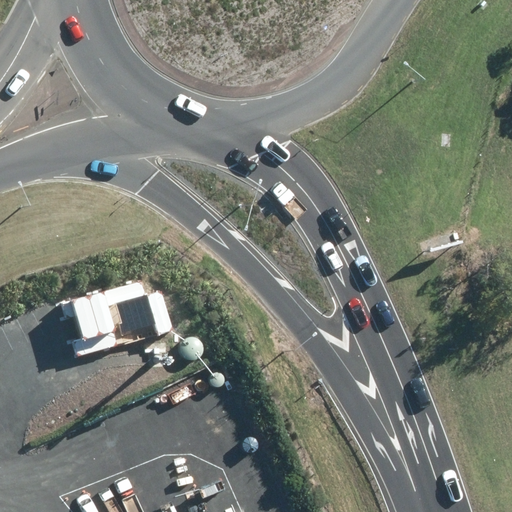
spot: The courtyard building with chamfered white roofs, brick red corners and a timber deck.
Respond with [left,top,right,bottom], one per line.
[56,280,172,358]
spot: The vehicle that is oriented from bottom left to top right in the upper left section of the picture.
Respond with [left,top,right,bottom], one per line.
[5,67,29,98]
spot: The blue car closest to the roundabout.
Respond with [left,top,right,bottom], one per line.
[90,160,118,176]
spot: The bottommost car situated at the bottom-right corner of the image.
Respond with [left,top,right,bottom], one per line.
[443,470,462,503]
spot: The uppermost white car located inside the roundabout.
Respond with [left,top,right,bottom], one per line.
[174,94,207,117]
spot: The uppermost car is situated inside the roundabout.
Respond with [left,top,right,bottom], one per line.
[66,15,84,42]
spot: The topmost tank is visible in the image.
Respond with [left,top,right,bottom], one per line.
[176,336,203,362]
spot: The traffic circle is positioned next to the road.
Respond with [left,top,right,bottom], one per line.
[46,0,417,168]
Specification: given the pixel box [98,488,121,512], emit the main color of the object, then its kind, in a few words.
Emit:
white truck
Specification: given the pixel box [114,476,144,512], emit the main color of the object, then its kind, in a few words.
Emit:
white truck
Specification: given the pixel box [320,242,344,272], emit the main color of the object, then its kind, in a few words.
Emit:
white car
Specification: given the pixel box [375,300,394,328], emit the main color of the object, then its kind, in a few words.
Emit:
blue car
